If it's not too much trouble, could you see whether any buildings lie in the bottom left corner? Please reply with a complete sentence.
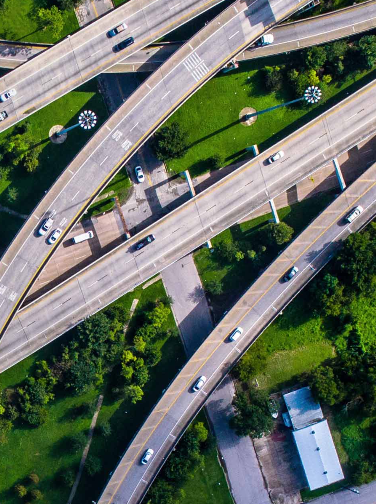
No, no building appears in the bottom left corner.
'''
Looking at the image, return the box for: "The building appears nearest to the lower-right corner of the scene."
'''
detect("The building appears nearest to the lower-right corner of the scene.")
[288,420,344,490]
